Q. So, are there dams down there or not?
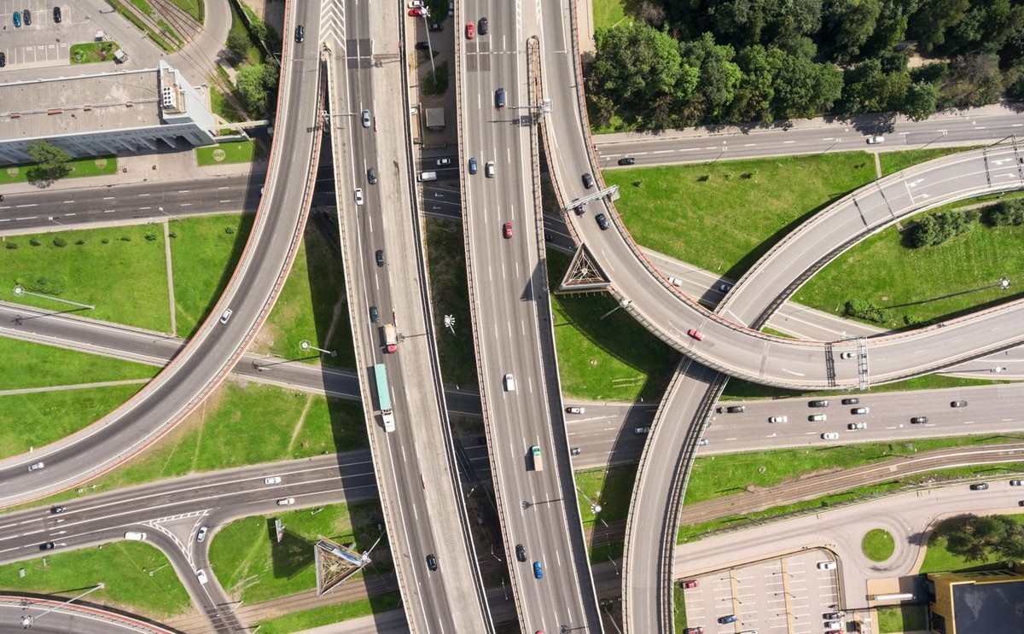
No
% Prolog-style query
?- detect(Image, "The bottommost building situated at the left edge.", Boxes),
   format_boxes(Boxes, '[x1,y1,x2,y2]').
[0,58,223,173]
